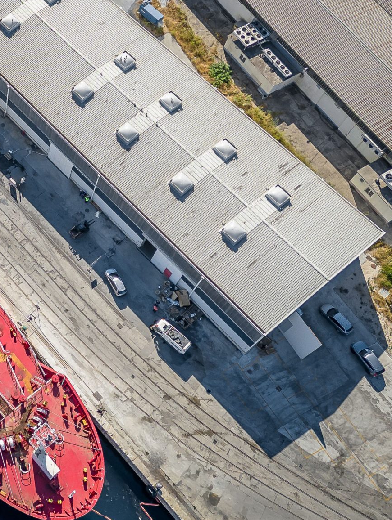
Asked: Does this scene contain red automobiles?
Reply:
No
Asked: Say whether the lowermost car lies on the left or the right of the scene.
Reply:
right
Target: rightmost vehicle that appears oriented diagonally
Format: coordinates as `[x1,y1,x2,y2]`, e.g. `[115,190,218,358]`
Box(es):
[348,342,387,380]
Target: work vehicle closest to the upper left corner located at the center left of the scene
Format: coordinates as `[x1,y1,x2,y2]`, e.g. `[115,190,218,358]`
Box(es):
[72,217,95,237]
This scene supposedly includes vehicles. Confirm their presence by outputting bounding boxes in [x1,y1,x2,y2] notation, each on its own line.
[348,342,387,380]
[101,269,132,302]
[72,217,95,237]
[318,304,355,340]
[152,319,194,359]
